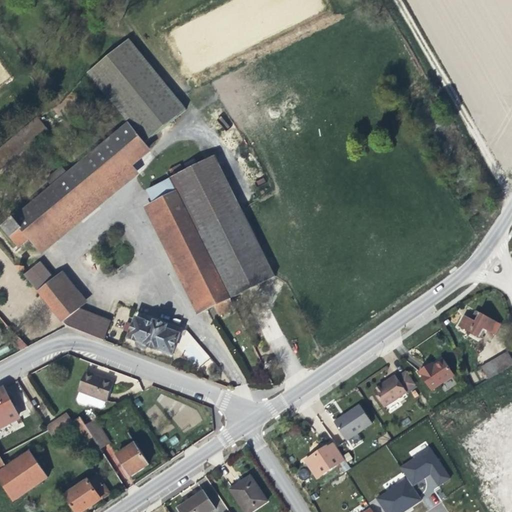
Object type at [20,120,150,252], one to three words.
building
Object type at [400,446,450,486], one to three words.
house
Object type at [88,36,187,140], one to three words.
barn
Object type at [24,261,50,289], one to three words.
shed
